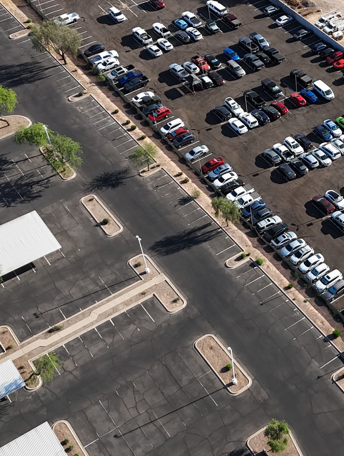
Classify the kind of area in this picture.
parking lot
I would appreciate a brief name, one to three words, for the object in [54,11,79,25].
vehicle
